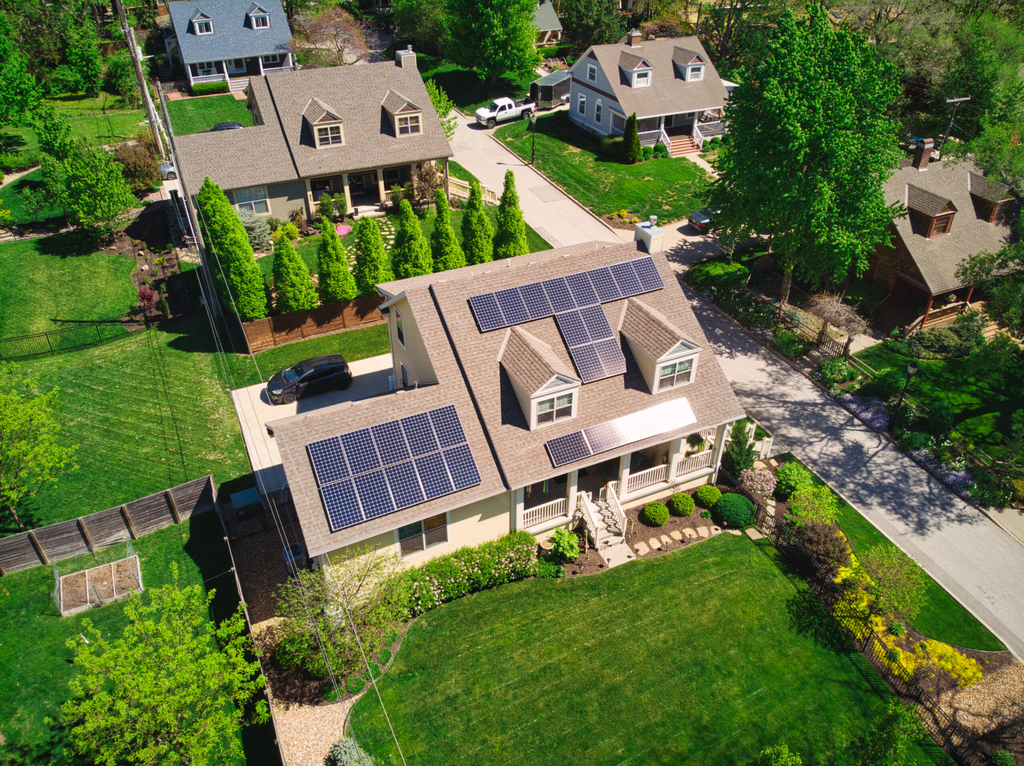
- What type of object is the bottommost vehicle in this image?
car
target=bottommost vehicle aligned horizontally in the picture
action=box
[270,355,358,406]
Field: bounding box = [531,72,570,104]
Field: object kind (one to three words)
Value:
trailer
